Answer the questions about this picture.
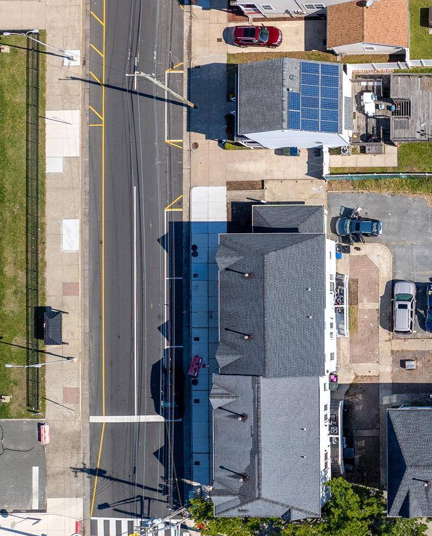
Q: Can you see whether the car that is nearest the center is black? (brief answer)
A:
Yes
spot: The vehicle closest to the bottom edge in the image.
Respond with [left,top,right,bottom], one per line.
[157,356,185,408]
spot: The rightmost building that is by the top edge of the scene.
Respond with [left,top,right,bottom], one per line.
[325,0,411,60]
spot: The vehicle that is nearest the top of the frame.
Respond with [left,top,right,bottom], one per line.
[232,23,286,50]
